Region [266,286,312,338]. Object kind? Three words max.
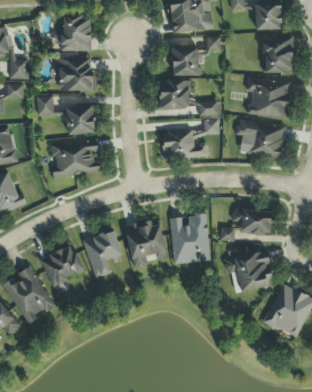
house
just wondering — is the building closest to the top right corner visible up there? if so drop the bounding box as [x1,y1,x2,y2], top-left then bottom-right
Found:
[256,2,283,30]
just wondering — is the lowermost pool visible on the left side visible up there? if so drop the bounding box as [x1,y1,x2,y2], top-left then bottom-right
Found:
[39,58,57,84]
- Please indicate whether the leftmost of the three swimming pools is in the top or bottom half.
top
